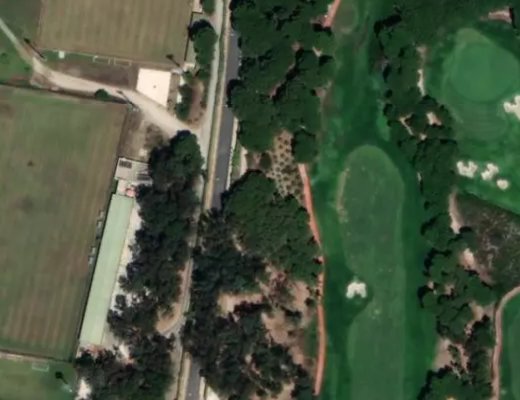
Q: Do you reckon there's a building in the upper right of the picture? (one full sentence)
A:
No, the scene shows no building in the upper right of the picture.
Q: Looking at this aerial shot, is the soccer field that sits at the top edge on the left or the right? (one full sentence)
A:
You can find the soccer field that sits at the top edge on the left side of the picture.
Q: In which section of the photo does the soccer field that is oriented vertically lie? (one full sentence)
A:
The soccer field that is oriented vertically sits in the left section of the image.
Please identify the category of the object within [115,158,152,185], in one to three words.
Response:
building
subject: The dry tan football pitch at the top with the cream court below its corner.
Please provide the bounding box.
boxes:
[39,0,193,65]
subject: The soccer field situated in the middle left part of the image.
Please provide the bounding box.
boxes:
[0,86,126,359]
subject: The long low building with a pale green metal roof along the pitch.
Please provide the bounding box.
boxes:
[79,196,134,347]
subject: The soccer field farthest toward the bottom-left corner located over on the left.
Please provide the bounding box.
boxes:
[0,360,75,400]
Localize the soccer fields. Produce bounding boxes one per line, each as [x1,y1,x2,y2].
[39,0,193,65]
[0,86,126,359]
[0,360,75,400]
